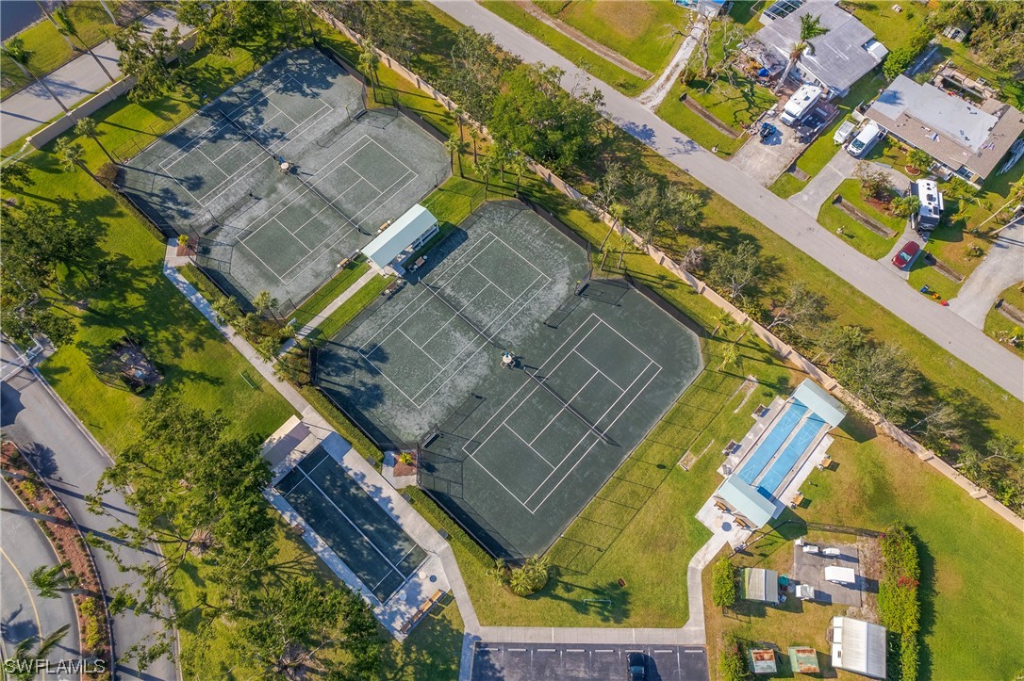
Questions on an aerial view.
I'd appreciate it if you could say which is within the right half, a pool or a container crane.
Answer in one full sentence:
It is a pool that can be seen within the right half.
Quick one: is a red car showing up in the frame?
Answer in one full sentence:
Yes, the image includes a red car.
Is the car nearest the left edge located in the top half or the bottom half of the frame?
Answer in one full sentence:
The car nearest the left edge is in the bottom half of the image.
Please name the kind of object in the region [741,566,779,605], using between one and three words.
shed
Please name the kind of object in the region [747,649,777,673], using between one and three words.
shed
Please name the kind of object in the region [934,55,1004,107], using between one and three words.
swimming pool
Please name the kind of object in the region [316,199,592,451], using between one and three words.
tennis court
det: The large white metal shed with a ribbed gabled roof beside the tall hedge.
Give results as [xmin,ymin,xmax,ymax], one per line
[832,617,887,679]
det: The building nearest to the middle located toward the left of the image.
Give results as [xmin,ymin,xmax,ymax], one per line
[360,204,438,281]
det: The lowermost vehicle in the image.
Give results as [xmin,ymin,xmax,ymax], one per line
[628,653,650,681]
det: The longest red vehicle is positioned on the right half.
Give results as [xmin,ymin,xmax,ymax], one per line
[890,240,921,270]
